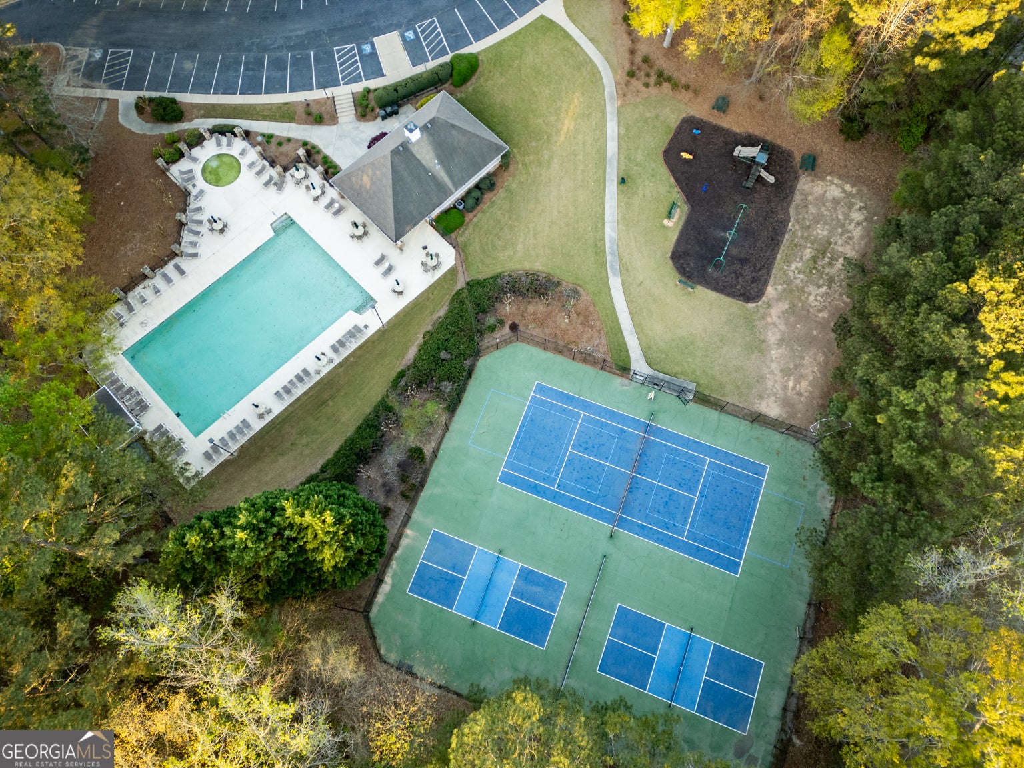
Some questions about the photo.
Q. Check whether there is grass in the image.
Yes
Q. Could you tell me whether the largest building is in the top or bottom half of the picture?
top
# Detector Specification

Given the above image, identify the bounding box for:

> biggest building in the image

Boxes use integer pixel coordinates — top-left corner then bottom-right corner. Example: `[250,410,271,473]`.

[329,91,510,254]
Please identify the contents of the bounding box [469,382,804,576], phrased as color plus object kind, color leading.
blue tennis court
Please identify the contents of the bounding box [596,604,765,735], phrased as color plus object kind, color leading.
blue sports court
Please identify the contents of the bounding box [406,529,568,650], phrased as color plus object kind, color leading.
blue sports court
